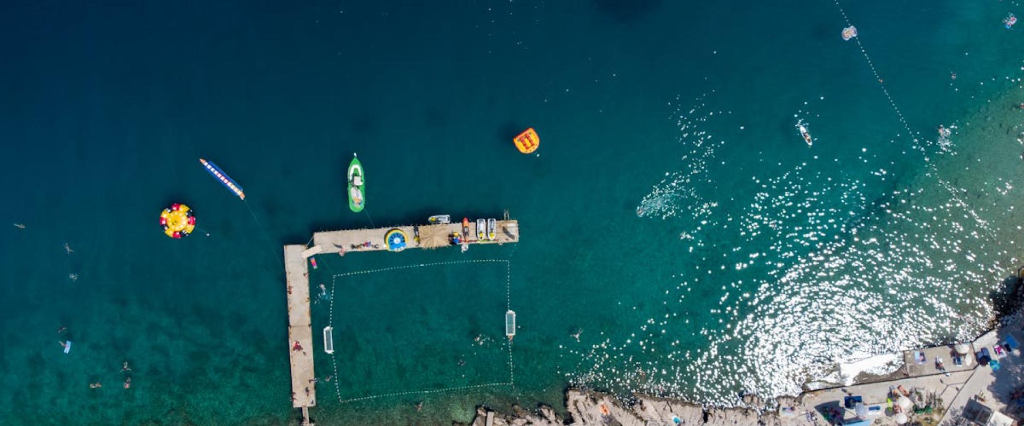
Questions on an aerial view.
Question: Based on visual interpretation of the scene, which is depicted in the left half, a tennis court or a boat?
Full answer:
Looking in the left half, you will find a boat.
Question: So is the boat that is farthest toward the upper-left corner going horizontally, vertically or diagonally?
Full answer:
Seen from above, the boat that is farthest toward the upper-left corner lies diagonally.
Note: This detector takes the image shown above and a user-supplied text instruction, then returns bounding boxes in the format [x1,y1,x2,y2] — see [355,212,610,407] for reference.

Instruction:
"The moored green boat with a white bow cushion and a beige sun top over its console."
[346,151,365,212]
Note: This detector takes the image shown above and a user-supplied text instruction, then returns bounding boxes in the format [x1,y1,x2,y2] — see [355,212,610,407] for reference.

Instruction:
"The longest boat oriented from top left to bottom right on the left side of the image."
[198,159,245,200]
